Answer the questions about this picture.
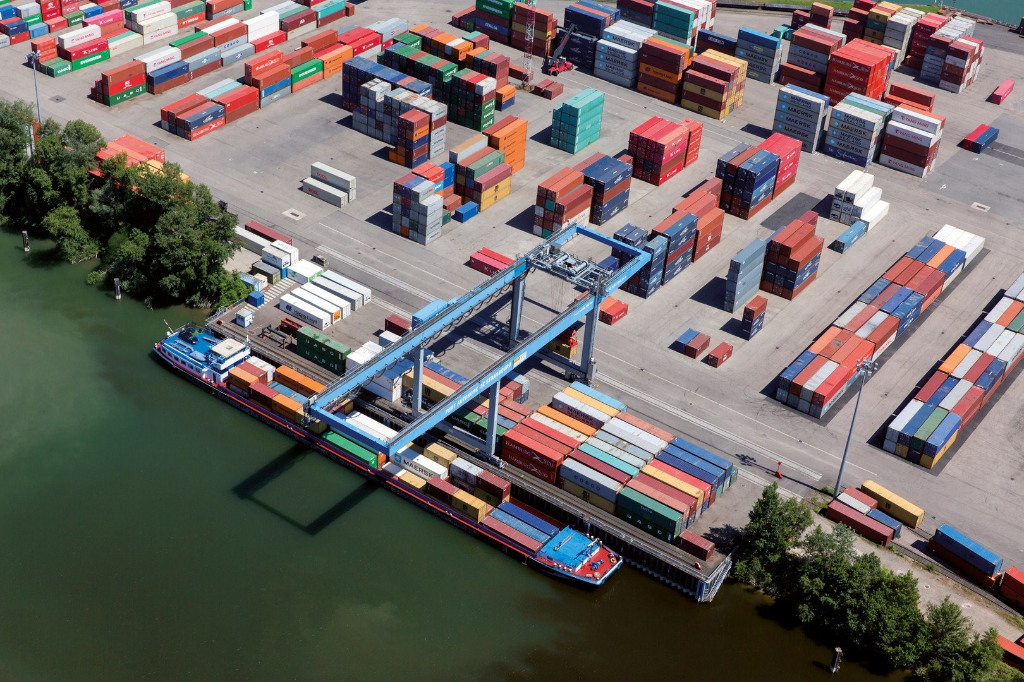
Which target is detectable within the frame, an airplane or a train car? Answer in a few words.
train car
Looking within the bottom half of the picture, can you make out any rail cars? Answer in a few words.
Yes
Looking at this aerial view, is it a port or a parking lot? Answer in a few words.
port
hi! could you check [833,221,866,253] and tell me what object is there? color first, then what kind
blue shipping container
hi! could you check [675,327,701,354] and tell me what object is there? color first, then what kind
blue shipping container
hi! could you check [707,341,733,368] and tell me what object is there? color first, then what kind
red shipping container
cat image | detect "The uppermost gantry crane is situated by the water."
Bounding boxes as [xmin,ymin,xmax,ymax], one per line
[292,218,657,465]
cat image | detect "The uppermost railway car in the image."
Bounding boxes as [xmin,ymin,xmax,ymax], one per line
[922,546,999,590]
